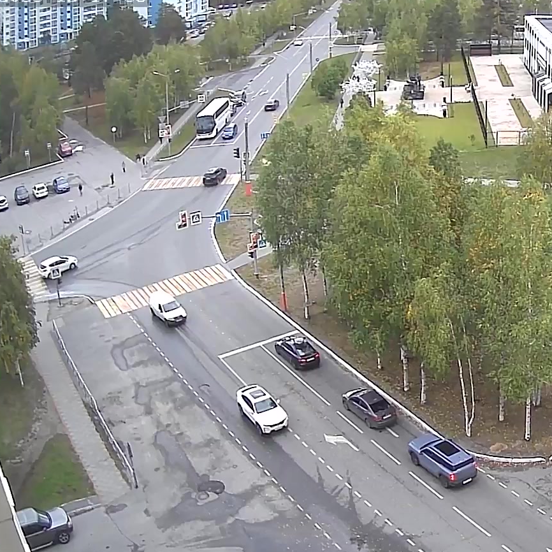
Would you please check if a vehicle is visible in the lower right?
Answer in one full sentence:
Yes, a vehicle appears in the lower right.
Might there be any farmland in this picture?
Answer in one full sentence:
No, there is no farmland in the image.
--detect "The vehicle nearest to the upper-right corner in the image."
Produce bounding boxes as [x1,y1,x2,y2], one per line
[399,75,430,102]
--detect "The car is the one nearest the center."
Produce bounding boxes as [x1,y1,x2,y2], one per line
[275,335,321,370]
